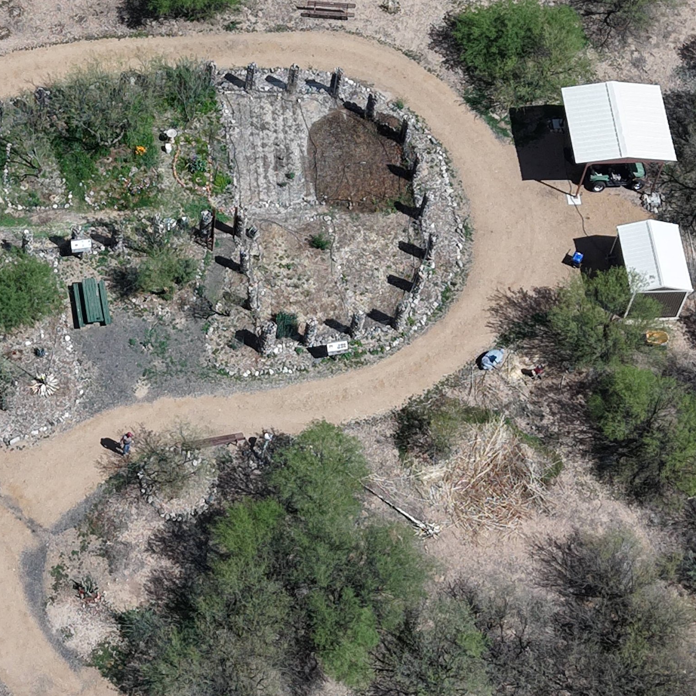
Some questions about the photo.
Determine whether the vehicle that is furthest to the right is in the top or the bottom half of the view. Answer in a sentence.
It is in the top half that the vehicle that is furthest to the right appears.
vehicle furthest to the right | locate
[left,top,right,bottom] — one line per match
[587,160,649,194]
